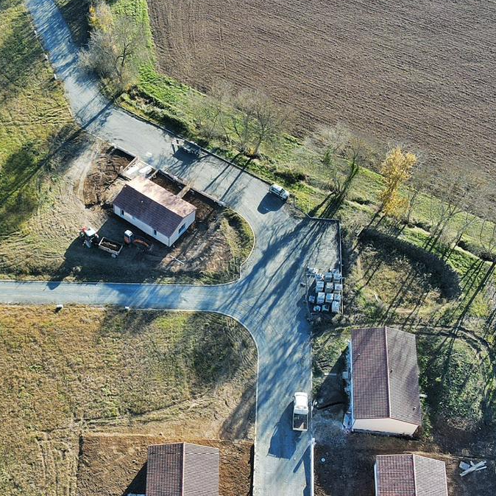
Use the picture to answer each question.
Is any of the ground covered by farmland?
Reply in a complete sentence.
Yes, there is farmland in the image.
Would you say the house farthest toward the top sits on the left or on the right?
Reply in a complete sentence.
The house farthest toward the top appears in the left half of the scene.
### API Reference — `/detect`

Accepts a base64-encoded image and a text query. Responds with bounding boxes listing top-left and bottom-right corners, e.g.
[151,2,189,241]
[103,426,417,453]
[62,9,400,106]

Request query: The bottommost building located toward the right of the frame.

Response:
[374,455,449,496]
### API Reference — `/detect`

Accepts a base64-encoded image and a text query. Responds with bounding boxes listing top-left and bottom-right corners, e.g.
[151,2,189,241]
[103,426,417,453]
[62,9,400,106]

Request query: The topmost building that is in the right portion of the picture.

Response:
[349,327,423,432]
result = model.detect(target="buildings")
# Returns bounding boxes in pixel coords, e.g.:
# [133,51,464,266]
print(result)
[349,327,423,432]
[113,175,196,253]
[374,455,449,496]
[145,442,220,496]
